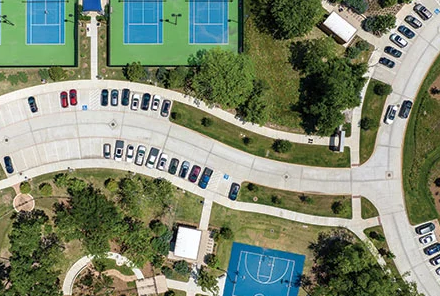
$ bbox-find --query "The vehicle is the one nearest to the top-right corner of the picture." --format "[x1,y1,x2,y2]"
[413,4,432,21]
